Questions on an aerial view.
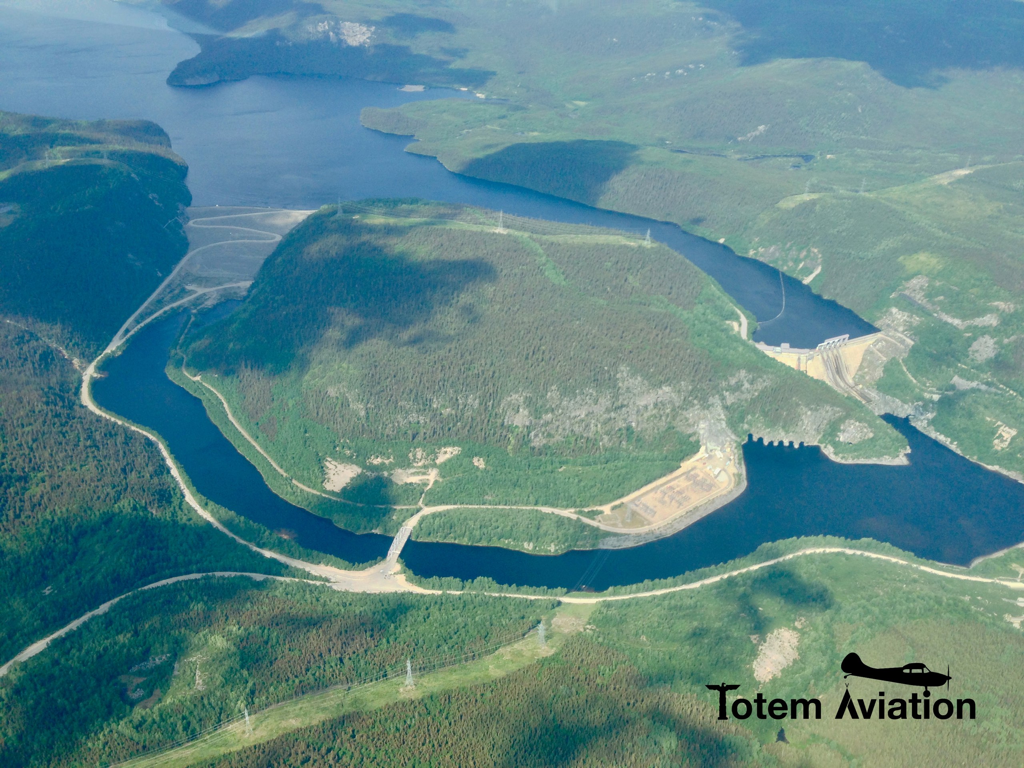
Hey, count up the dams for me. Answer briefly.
two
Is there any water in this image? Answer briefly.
Yes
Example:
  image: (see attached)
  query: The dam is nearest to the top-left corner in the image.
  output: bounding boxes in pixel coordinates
[172,204,313,306]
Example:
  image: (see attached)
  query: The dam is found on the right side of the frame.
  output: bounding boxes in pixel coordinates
[750,328,886,403]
